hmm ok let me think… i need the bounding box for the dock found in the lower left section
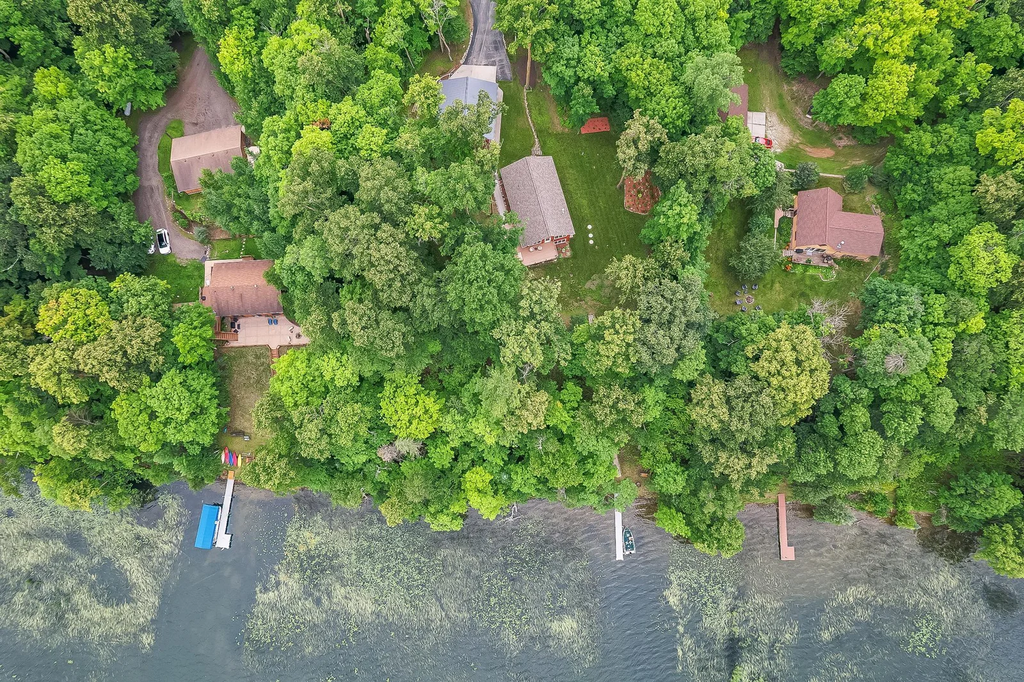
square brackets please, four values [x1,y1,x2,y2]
[215,470,235,549]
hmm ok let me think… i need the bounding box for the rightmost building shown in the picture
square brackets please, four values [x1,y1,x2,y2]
[789,189,886,257]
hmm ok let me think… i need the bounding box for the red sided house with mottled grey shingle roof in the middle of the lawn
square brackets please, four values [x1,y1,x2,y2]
[500,156,575,249]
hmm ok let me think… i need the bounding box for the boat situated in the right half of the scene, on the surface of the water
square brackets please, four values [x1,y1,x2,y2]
[623,527,636,557]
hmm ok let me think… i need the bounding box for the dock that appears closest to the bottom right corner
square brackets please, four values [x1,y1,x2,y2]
[778,494,795,560]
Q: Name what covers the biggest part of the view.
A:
trees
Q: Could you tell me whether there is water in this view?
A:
Yes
